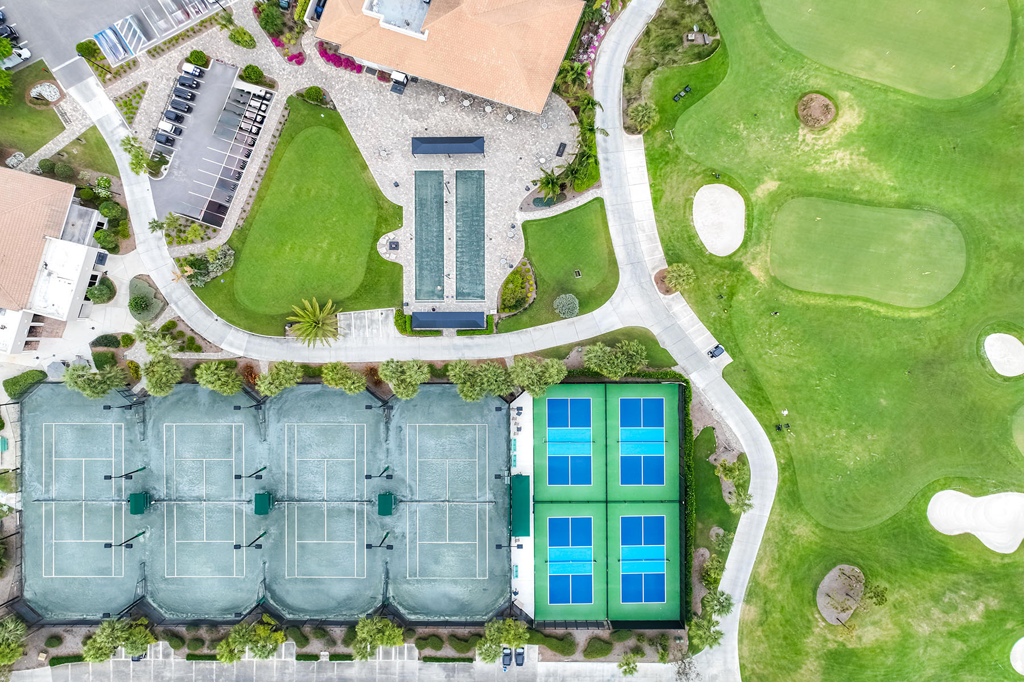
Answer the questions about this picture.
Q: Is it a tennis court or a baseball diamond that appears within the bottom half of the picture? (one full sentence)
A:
What appears within the bottom half of the picture is a tennis court.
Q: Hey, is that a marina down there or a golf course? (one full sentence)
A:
The area seen from above is a golf course.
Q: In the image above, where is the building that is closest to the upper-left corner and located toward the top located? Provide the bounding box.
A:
[0,165,110,355]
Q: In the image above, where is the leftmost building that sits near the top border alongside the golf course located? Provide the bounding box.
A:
[314,0,587,115]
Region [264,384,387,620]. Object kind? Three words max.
tennis court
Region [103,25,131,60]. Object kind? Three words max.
car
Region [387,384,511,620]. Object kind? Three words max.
tennis court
